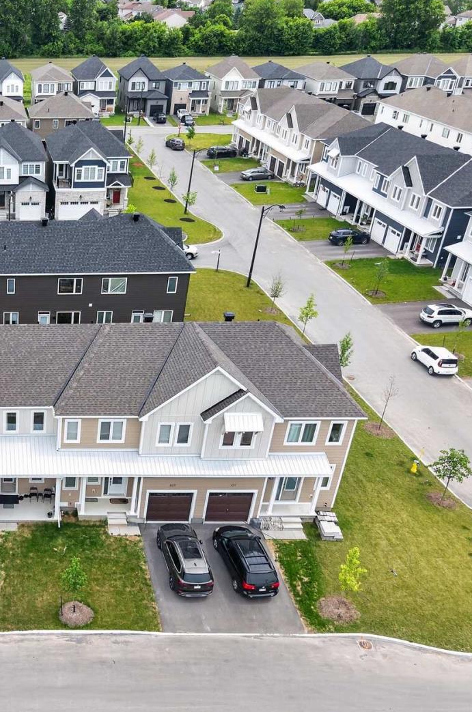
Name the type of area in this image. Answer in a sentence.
The picture captures a residential area.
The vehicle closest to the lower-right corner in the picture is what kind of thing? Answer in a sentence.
What you see as the vehicle closest to the lower-right corner is an automobile.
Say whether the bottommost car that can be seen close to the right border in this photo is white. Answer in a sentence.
Yes, the bottommost car that can be seen close to the right border is indeed white.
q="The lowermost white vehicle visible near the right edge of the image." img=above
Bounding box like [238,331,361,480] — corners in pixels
[411,345,463,377]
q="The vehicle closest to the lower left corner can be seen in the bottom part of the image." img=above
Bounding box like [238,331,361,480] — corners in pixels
[157,527,215,600]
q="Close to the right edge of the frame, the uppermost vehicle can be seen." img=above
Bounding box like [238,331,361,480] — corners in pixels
[419,301,472,328]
